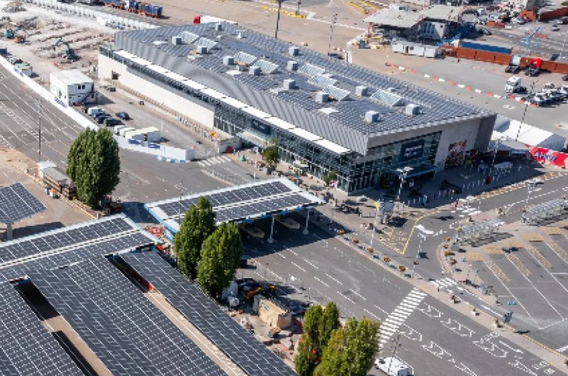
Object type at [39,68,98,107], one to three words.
building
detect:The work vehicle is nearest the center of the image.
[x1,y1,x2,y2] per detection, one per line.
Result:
[241,257,276,292]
